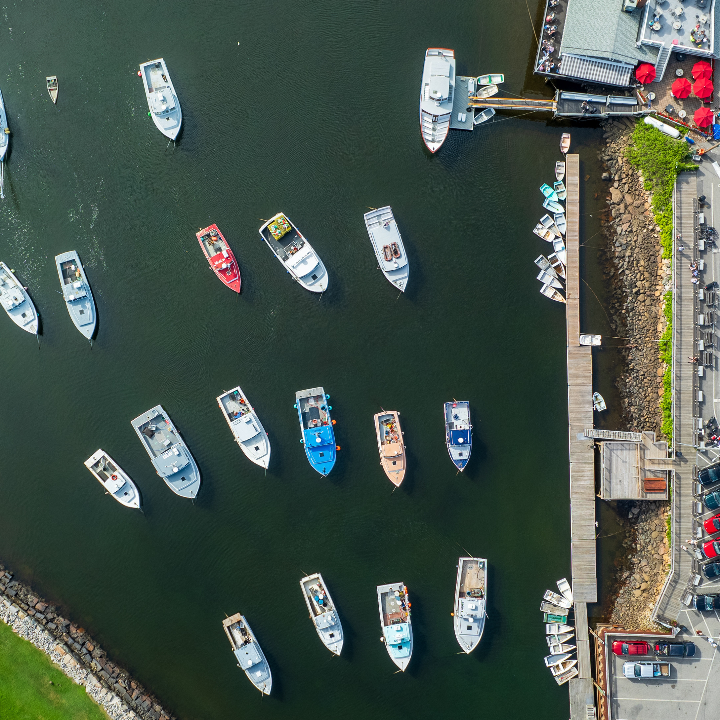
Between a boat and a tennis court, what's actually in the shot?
boat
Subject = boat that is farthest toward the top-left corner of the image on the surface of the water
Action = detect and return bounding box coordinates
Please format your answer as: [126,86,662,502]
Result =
[47,75,59,107]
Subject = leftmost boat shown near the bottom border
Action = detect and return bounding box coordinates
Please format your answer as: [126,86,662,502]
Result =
[222,612,271,698]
